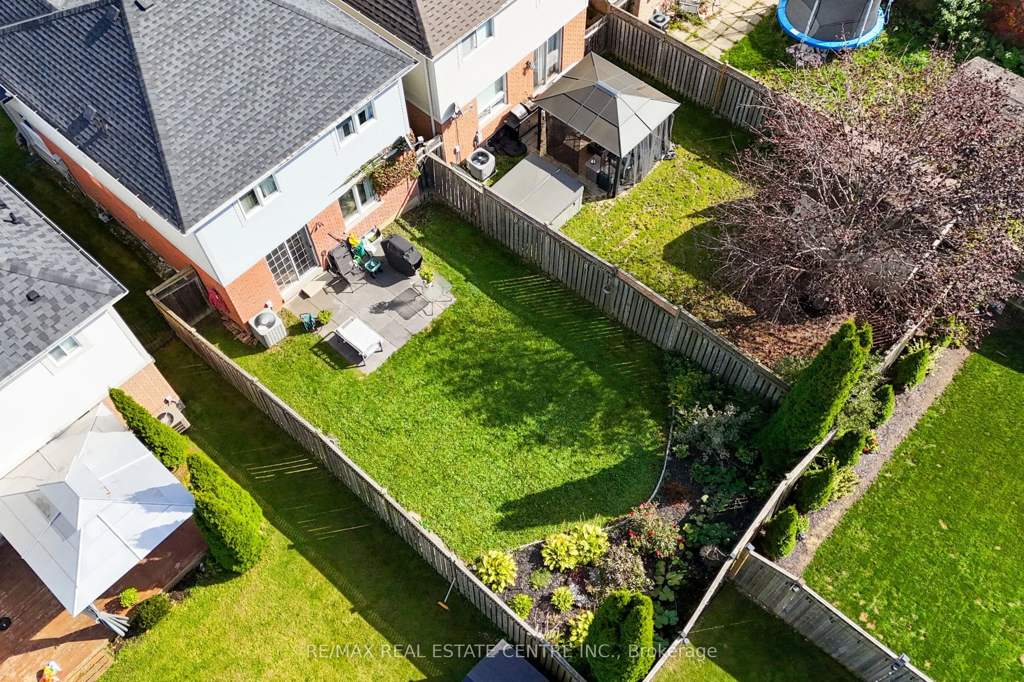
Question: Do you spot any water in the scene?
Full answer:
No, the scene doesn't show any water.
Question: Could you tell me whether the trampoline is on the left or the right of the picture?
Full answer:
It is on the right.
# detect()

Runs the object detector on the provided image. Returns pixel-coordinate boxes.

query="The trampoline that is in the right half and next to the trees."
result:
[770,0,892,63]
